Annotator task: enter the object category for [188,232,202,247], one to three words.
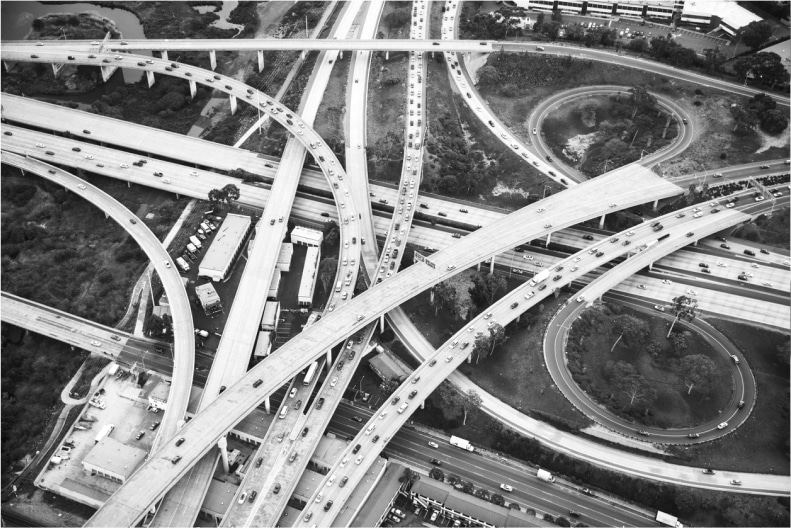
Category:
vehicle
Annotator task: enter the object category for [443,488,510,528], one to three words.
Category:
house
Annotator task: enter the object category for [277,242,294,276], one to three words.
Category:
shed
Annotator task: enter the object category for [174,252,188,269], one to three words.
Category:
vehicle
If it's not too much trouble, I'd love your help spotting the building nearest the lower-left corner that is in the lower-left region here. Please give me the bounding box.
[81,435,148,482]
